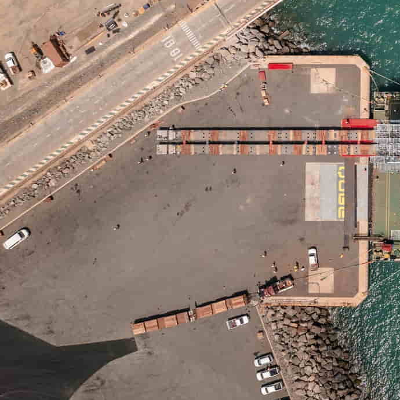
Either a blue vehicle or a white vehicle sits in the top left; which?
white vehicle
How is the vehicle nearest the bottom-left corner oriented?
diagonally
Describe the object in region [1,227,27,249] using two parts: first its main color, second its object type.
white vehicle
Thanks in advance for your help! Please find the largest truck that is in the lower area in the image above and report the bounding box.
[254,277,292,300]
